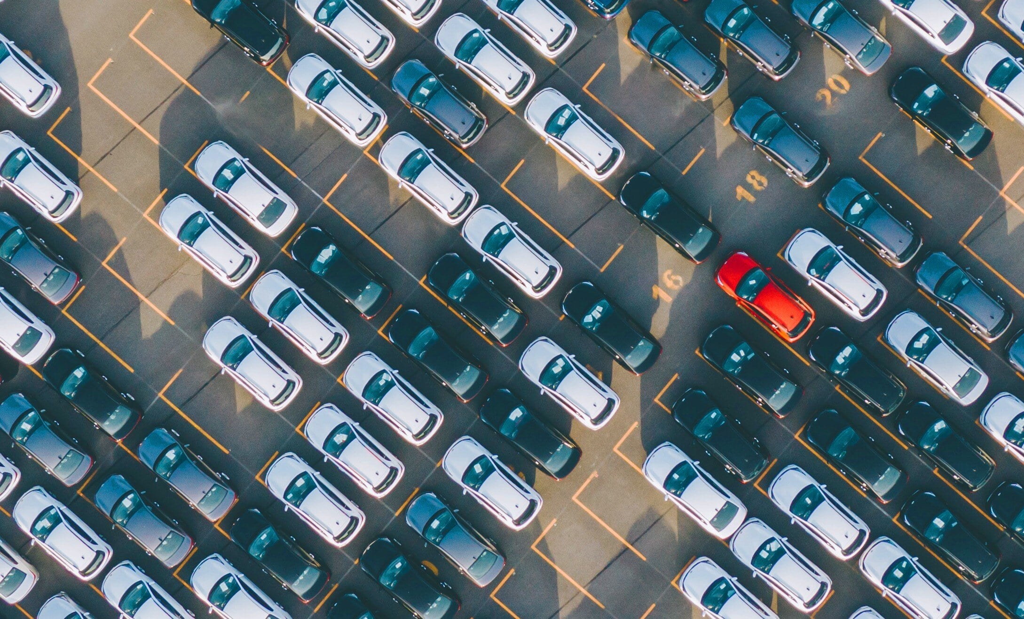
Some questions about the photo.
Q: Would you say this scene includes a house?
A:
No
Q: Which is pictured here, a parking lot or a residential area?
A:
parking lot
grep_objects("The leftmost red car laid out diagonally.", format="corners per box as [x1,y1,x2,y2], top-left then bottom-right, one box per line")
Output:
[714,251,816,344]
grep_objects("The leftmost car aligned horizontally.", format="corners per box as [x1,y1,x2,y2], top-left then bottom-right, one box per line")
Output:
[39,592,100,619]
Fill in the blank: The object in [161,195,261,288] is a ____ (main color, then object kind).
white car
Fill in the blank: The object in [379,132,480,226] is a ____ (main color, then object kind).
white car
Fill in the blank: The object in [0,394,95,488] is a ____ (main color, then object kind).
blue car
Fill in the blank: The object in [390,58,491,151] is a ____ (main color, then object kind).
blue car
